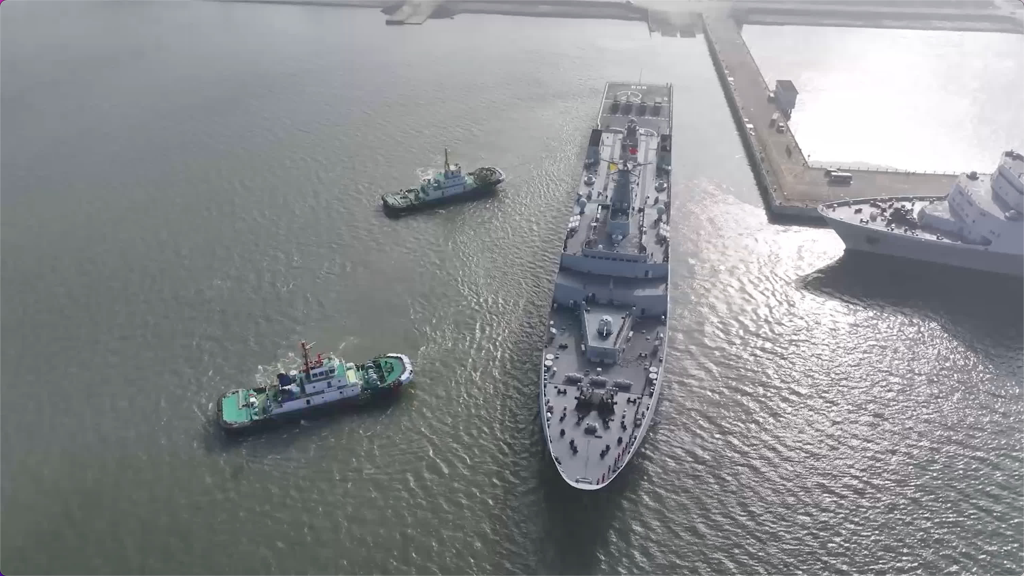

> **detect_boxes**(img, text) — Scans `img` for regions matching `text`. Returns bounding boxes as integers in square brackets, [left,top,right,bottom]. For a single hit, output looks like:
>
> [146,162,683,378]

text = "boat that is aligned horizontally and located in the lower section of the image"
[214,335,414,431]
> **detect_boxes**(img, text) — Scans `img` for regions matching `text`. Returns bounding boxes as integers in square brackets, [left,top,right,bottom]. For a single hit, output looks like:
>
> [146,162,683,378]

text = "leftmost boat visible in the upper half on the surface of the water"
[382,141,509,214]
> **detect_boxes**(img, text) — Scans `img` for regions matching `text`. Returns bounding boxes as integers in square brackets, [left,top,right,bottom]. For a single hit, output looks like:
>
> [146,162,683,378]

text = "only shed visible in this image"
[772,81,799,124]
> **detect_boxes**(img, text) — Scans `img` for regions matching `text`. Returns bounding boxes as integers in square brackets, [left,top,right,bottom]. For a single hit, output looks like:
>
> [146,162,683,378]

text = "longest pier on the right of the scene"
[696,1,1000,227]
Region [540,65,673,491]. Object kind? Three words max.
ship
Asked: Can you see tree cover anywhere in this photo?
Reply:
No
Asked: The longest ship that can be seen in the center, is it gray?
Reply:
Yes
